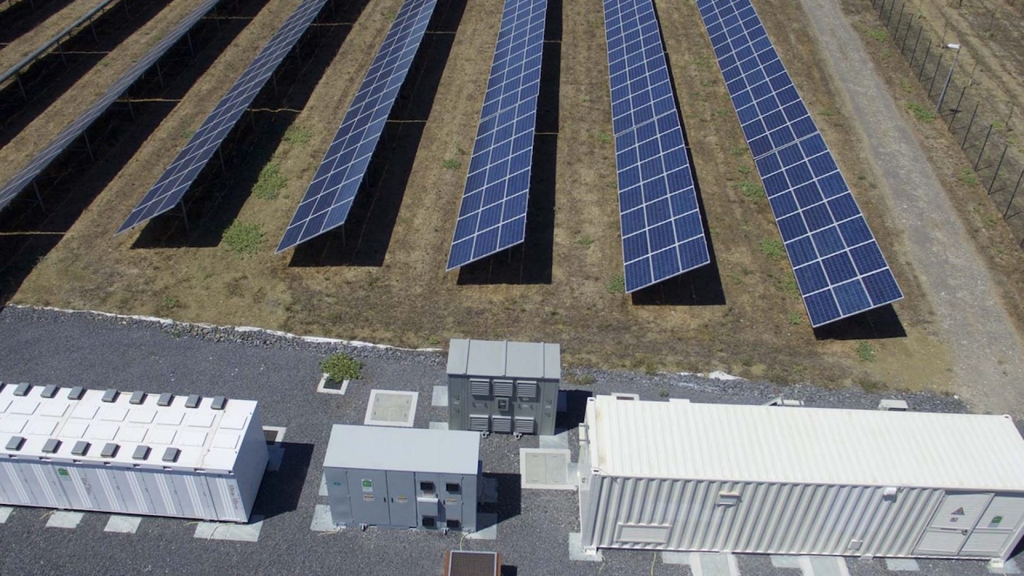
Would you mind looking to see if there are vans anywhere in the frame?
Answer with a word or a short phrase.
No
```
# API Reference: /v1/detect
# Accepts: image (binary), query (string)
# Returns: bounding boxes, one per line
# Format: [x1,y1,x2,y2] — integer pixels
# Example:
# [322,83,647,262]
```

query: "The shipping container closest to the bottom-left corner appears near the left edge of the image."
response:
[0,384,270,523]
